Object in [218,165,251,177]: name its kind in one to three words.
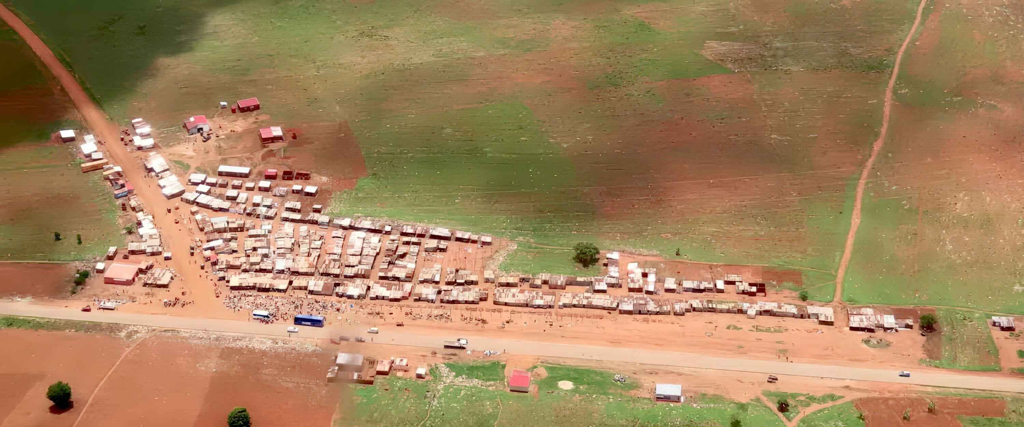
house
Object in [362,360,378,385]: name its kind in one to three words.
shed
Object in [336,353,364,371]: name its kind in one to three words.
house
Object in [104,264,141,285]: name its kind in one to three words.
building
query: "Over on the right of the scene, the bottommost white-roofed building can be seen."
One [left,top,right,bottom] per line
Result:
[656,384,681,403]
